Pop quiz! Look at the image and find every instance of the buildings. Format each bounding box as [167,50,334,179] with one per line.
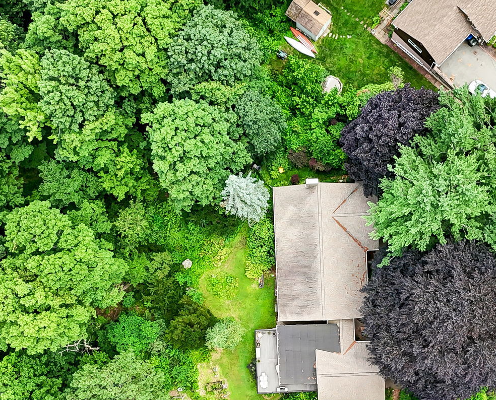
[391,0,496,73]
[283,0,334,44]
[274,176,389,400]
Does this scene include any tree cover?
Yes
